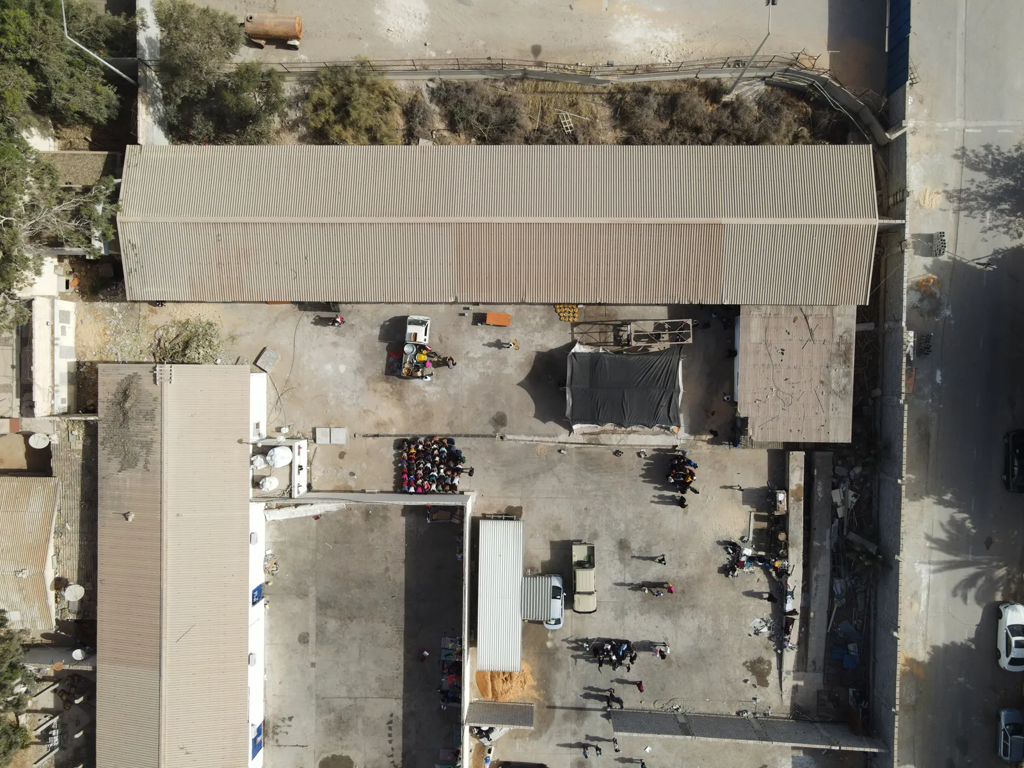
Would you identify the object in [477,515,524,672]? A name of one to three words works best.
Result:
building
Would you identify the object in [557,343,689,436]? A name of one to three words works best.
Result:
tent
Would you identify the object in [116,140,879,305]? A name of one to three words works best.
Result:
shed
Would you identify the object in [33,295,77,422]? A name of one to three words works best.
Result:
house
